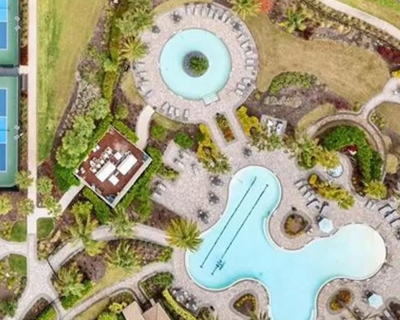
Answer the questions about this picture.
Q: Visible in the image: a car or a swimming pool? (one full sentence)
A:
There is a swimming pool in the scene.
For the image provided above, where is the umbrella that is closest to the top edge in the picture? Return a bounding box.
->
[318,217,333,232]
